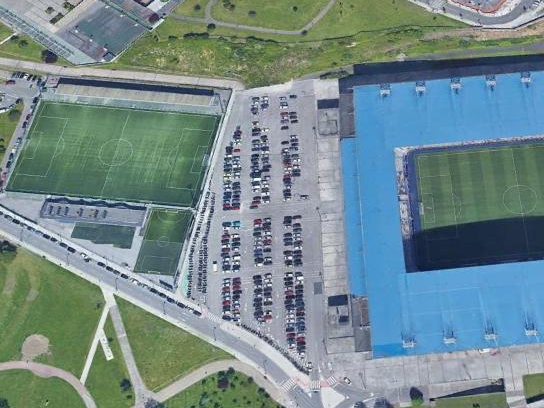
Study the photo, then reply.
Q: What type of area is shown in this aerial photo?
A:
sports ground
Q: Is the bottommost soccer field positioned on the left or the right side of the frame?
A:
left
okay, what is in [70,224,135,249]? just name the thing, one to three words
sports court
